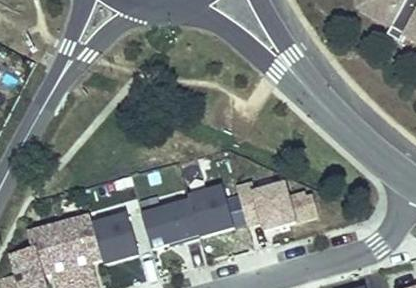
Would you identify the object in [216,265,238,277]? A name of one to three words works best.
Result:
vehicle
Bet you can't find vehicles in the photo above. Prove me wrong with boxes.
[254,230,266,248]
[216,265,238,277]
[190,244,202,267]
[330,235,352,246]
[389,254,410,266]
[394,277,414,288]
[284,247,306,259]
